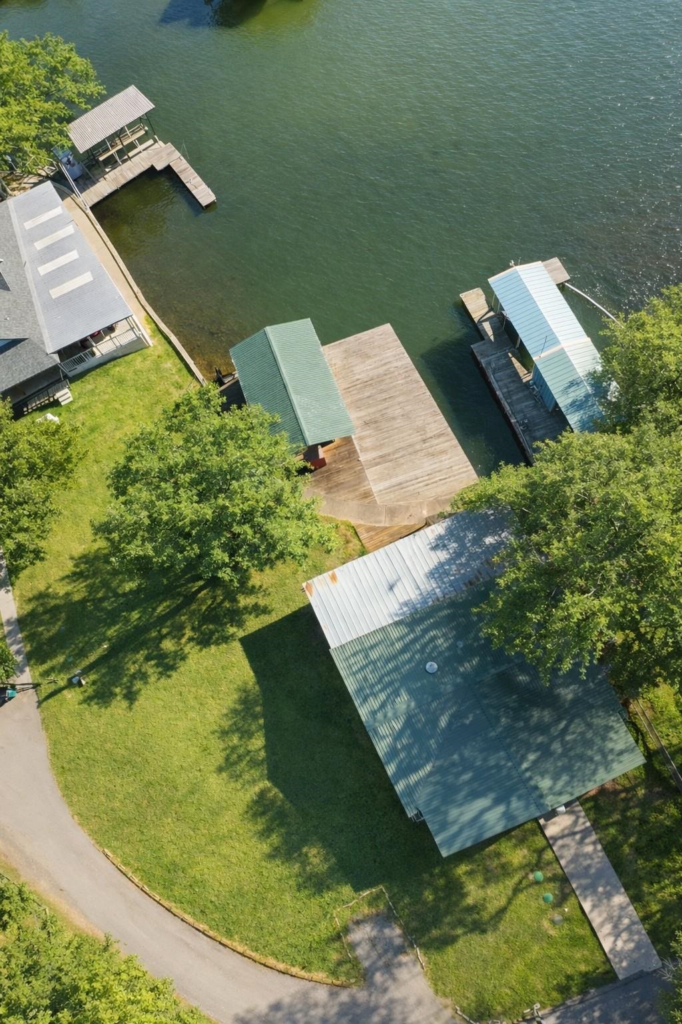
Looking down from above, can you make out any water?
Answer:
Yes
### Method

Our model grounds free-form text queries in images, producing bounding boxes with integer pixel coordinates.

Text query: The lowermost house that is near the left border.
[0,172,153,401]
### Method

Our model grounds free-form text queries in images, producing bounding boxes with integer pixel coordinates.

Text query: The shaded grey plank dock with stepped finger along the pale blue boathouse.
[459,287,574,458]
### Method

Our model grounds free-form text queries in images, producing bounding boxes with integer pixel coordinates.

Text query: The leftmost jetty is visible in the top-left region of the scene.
[76,142,217,217]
